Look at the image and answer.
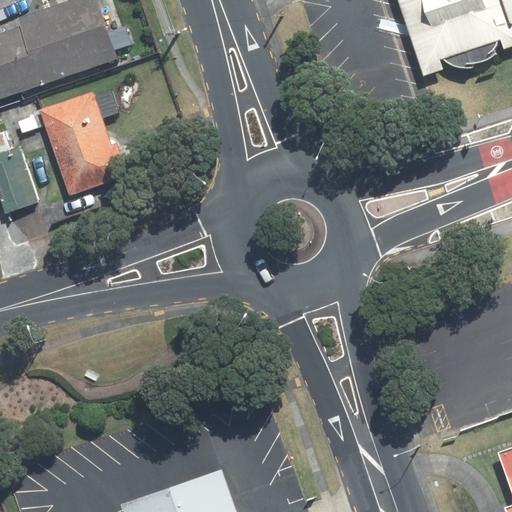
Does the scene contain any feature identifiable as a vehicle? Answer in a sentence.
Yes, the image includes a vehicle.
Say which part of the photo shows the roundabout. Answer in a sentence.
Look in the center portion of the view to spot the roundabout.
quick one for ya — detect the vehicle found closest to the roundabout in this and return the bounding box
[256,258,274,284]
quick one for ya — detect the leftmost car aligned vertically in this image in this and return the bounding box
[32,156,49,185]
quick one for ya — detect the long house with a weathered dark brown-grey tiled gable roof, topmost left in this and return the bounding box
[0,0,117,102]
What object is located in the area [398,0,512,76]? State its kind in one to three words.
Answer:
building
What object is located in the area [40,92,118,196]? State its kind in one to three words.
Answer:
house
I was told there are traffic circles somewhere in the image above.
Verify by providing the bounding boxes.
[266,198,326,265]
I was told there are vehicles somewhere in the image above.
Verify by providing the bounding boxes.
[376,18,406,34]
[32,156,49,185]
[256,258,274,284]
[0,0,30,21]
[63,193,96,213]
